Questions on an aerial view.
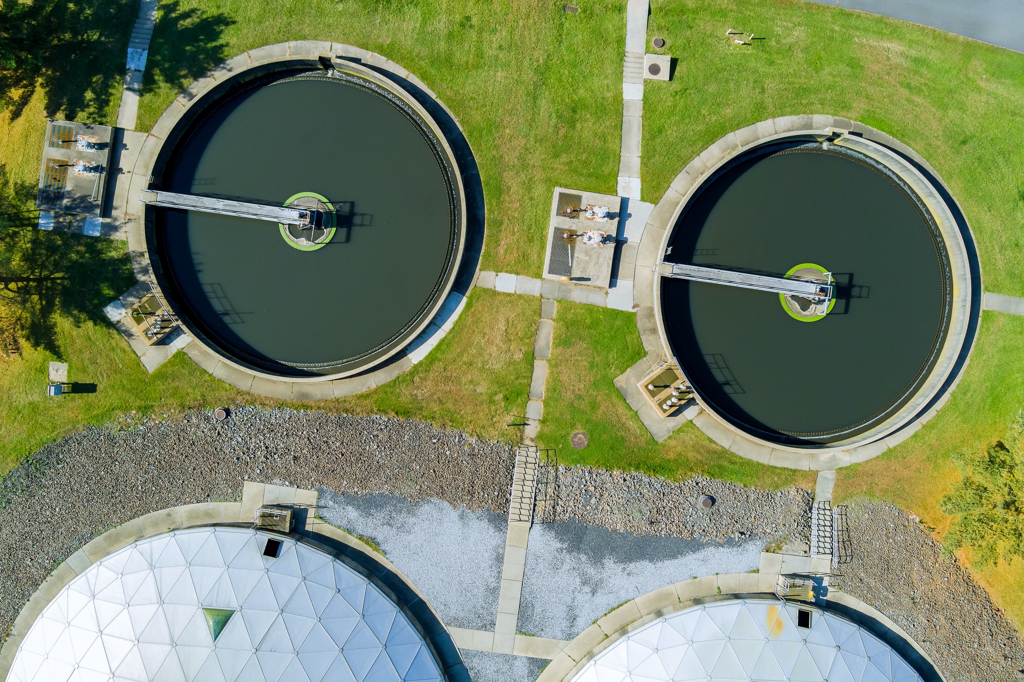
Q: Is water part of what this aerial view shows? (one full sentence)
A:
Yes, there's water in this view.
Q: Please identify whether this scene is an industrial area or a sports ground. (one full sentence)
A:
The area seen from above is an industrial area.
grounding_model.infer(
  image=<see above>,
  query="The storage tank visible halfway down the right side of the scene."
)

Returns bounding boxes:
[641,125,973,452]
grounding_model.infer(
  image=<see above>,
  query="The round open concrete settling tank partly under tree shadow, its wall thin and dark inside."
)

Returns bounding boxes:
[140,49,466,381]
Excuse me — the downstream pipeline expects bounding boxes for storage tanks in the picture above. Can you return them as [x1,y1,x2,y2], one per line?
[0,524,446,682]
[641,125,973,452]
[140,49,466,381]
[565,594,928,682]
